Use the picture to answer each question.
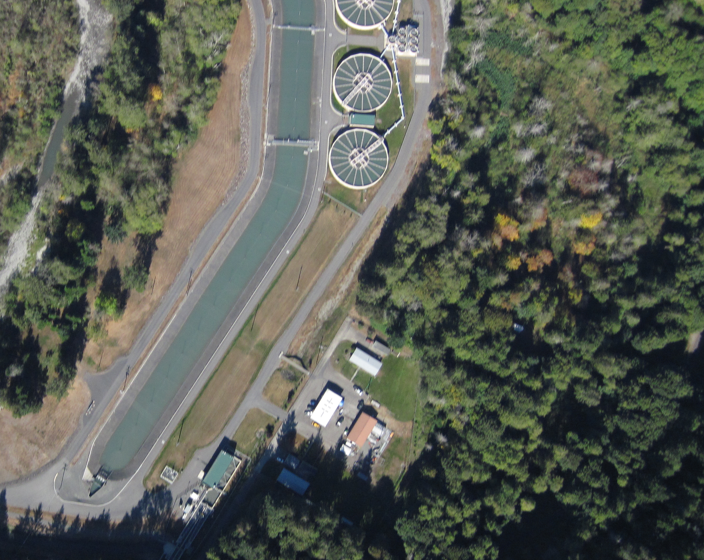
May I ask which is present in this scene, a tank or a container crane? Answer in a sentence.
Of the two, only a tank appears.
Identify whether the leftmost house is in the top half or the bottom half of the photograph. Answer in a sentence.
The leftmost house is in the bottom half of the image.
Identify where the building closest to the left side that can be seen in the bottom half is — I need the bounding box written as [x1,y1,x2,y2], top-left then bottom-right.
[203,449,234,488]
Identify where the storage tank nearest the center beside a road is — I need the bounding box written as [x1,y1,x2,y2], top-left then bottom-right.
[329,129,388,188]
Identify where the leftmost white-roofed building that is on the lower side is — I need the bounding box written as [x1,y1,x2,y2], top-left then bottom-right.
[310,389,343,427]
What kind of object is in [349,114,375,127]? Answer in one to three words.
building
